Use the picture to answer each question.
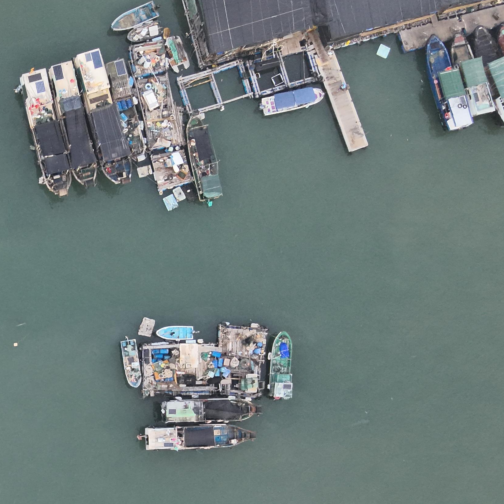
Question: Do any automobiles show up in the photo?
No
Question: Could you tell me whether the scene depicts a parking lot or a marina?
marina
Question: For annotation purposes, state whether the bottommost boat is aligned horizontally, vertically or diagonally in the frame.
horizontally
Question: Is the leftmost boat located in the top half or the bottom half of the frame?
top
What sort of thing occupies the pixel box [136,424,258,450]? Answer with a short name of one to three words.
boat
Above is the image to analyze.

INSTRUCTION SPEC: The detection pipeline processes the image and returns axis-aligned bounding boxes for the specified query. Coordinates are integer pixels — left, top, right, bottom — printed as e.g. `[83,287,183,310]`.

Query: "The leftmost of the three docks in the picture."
[307,26,368,154]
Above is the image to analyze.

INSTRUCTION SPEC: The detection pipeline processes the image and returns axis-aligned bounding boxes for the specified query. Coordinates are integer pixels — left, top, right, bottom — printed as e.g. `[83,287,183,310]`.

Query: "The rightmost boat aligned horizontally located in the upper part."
[258,87,325,117]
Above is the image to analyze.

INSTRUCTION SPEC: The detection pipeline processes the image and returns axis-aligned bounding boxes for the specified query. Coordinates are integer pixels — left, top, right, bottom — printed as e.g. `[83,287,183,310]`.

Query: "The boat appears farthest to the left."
[13,68,72,197]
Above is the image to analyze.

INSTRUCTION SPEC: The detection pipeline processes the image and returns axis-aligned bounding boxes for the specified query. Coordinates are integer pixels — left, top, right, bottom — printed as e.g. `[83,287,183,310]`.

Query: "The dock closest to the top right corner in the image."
[462,5,504,35]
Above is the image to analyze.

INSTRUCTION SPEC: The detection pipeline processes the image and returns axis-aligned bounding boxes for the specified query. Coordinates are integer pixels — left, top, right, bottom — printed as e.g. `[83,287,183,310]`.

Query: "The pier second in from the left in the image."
[395,14,465,55]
